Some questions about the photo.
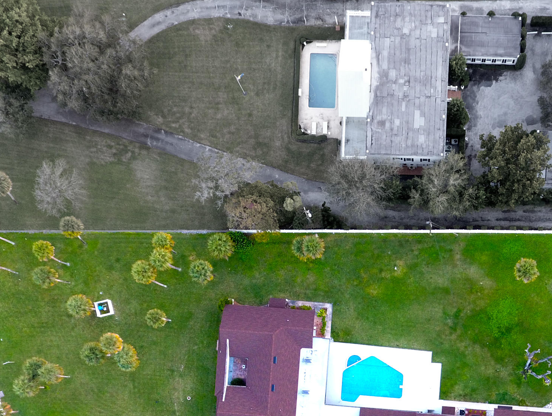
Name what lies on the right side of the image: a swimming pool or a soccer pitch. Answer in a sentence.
Visible on the right side of the image is a swimming pool.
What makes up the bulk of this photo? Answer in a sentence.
The scene is dominated by grass.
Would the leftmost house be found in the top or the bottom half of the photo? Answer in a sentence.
The leftmost house is in the bottom half of the image.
